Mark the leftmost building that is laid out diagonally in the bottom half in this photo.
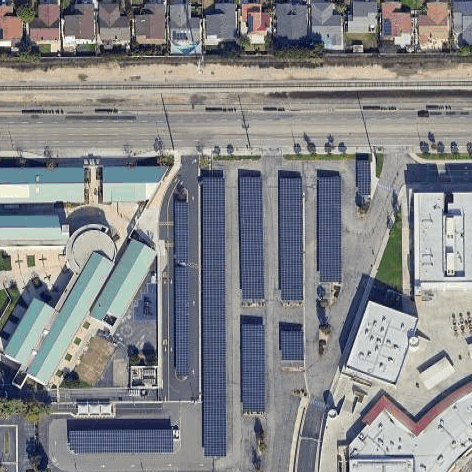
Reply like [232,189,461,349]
[3,298,55,366]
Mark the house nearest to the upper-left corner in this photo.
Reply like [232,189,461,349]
[0,7,23,46]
